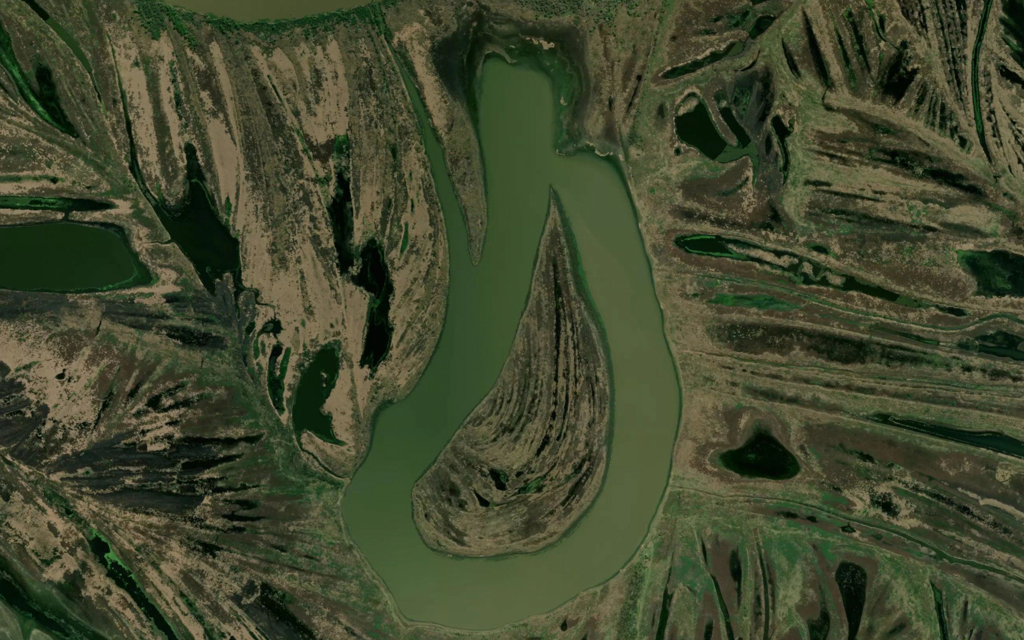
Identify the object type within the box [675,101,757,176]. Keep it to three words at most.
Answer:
pond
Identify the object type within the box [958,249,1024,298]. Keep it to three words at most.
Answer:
pond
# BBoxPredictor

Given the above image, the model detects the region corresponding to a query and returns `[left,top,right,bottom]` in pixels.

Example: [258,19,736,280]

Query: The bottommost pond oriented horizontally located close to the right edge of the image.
[867,414,1024,459]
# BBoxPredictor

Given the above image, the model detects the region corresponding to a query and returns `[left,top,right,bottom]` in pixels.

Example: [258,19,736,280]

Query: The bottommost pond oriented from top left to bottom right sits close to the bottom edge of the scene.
[90,536,179,640]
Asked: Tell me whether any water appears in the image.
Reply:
Yes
